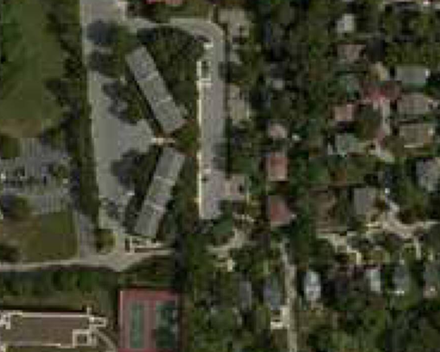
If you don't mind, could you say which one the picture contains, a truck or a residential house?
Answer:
residential house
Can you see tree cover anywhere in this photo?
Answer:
Yes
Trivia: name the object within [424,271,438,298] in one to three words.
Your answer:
house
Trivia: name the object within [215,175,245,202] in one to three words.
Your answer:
house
